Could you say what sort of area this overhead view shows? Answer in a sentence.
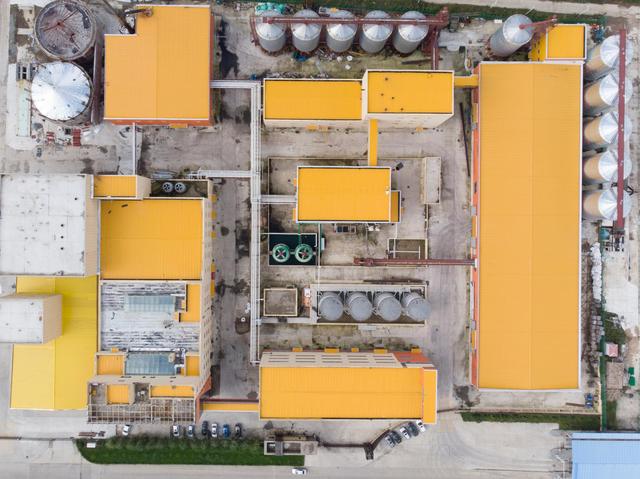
The picture captures an industrial area.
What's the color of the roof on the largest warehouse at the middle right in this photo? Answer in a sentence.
The color of the roof on the largest warehouse at the middle right is orange.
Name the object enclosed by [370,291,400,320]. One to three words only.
storage tank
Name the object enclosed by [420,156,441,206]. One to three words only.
building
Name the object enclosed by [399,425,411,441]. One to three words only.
vehicle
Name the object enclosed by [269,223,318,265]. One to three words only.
cooling tower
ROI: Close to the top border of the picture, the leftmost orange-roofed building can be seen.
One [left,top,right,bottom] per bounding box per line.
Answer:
[104,5,216,127]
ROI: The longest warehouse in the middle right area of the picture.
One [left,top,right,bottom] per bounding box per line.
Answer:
[471,59,586,394]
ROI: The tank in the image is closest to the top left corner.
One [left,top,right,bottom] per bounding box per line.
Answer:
[34,0,98,61]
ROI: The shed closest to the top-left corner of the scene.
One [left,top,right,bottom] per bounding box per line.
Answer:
[19,79,34,137]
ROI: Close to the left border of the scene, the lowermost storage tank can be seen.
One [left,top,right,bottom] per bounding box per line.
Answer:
[31,61,94,126]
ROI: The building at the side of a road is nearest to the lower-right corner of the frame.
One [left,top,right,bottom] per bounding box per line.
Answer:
[570,433,640,479]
